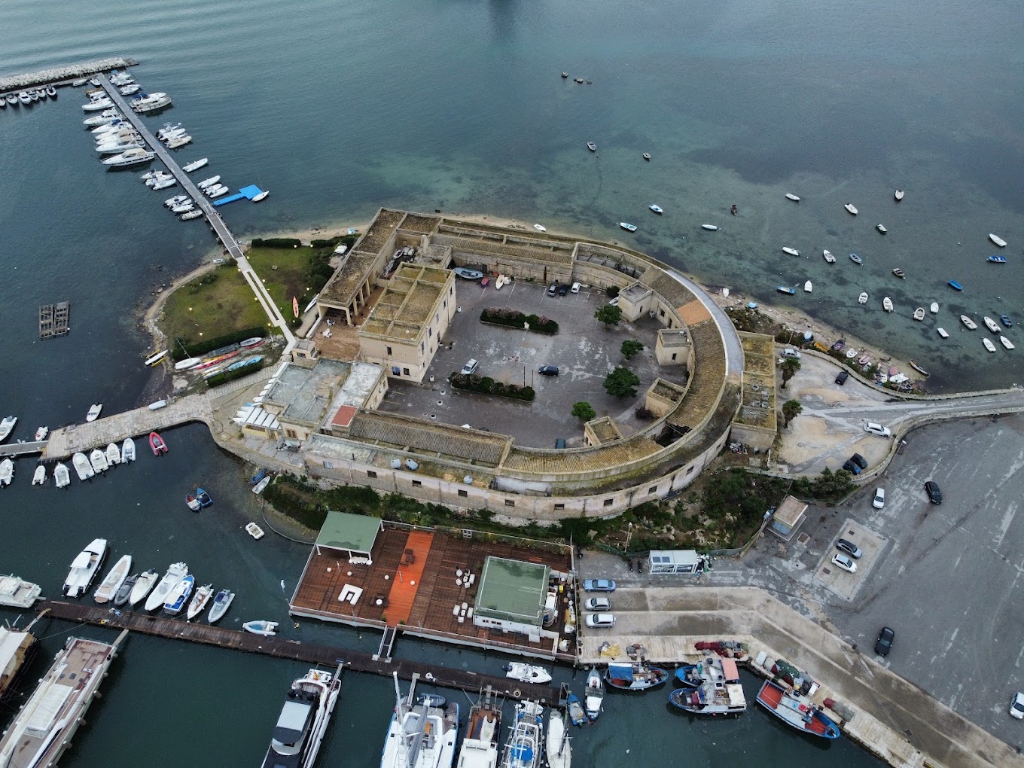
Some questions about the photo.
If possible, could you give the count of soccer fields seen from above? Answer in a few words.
zero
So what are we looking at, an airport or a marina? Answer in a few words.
marina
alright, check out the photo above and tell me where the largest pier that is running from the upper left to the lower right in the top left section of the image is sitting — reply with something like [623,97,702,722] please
[99,77,217,215]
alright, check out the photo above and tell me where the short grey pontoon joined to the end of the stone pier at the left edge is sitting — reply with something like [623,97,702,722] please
[0,439,47,459]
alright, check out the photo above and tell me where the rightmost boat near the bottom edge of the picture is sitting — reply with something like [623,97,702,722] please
[757,682,840,734]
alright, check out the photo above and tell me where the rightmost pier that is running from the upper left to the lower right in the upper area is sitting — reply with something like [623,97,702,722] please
[205,212,242,257]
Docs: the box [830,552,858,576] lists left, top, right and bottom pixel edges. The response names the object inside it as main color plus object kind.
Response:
white car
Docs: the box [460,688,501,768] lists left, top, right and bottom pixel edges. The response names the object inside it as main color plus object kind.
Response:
white boat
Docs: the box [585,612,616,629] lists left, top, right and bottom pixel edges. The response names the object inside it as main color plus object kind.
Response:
white car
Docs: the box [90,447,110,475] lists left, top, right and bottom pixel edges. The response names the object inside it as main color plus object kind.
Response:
white boat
